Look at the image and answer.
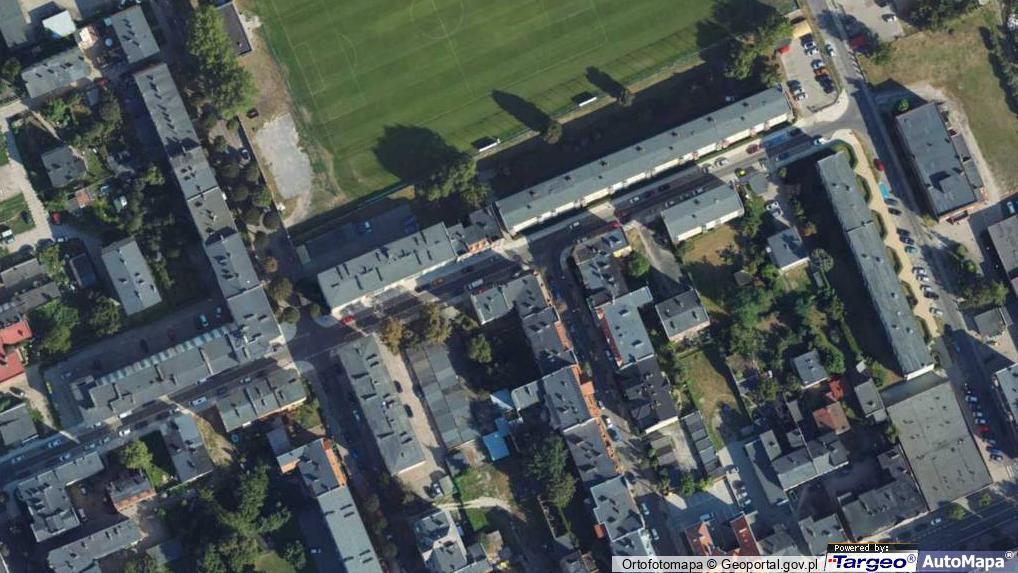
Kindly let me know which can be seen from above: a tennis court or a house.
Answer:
house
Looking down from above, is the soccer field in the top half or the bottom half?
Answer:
top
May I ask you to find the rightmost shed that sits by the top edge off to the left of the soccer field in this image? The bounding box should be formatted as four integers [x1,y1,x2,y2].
[217,1,252,55]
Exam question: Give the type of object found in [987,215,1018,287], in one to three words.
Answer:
building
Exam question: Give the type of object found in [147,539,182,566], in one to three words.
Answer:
shed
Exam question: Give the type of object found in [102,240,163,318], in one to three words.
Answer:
house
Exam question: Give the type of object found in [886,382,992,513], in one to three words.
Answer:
building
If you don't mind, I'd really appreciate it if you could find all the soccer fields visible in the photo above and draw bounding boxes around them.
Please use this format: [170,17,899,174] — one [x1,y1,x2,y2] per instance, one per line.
[261,0,765,196]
